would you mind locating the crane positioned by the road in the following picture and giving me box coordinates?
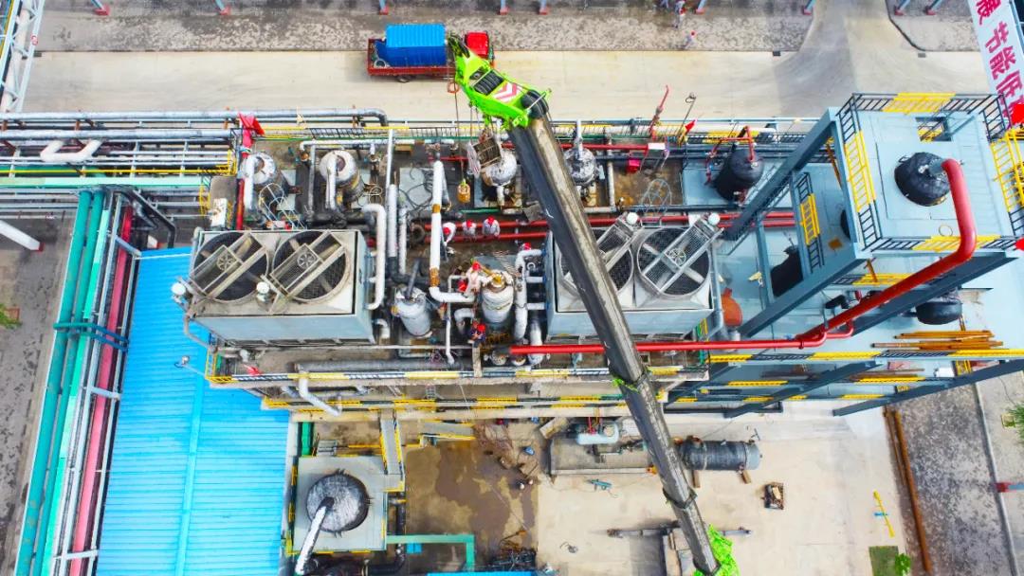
[444,34,751,576]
